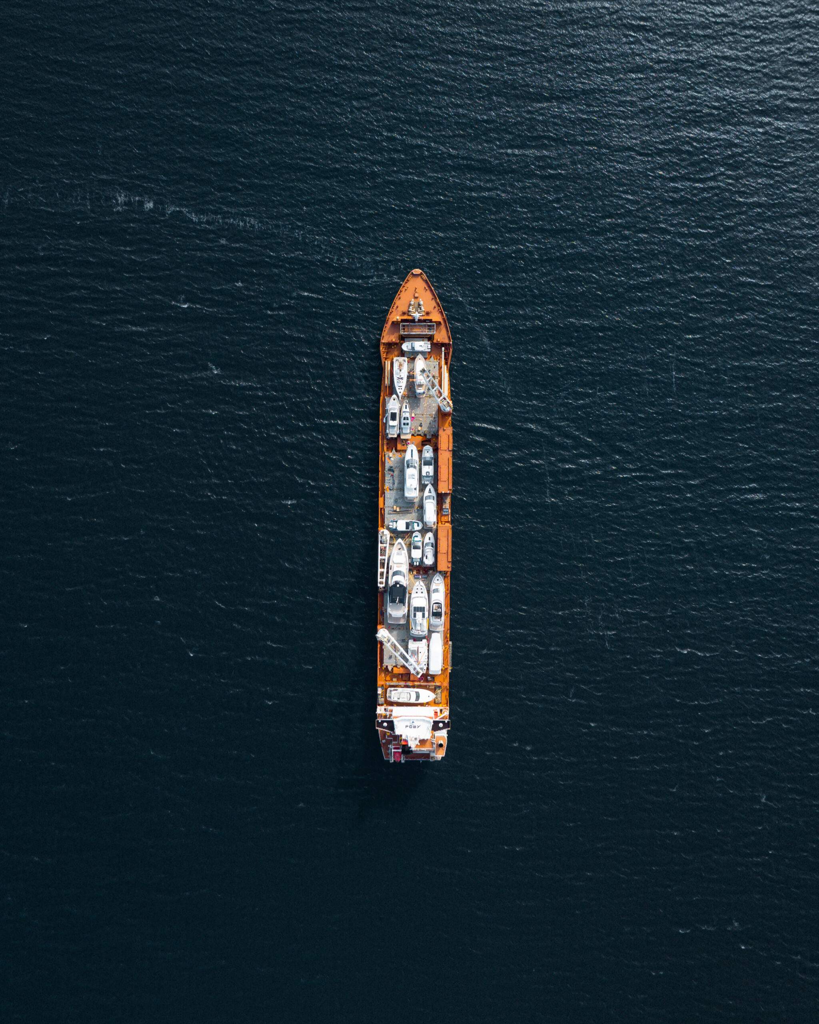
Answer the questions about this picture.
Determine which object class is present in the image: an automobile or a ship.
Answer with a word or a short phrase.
ship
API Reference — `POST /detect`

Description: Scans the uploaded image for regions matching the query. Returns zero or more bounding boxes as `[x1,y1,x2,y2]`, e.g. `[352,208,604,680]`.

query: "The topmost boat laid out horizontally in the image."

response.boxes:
[402,341,431,354]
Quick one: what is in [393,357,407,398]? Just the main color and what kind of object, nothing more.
white boat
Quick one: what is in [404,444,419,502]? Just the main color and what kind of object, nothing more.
white boat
